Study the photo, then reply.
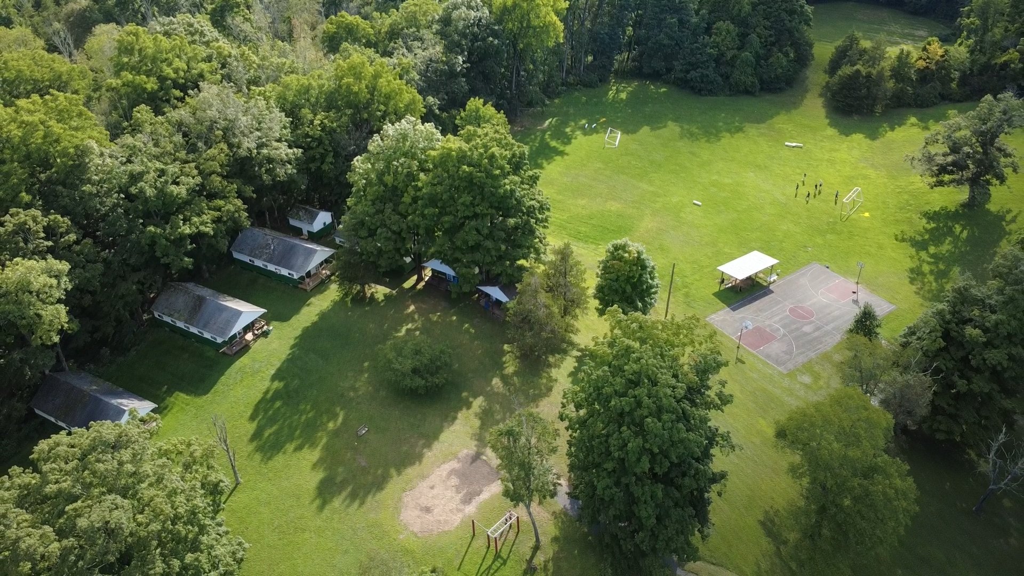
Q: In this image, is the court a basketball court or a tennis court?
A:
basketball court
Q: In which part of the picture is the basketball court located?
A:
right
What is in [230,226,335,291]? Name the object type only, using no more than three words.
building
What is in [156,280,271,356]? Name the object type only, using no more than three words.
building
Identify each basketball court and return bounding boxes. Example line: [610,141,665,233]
[706,263,896,372]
